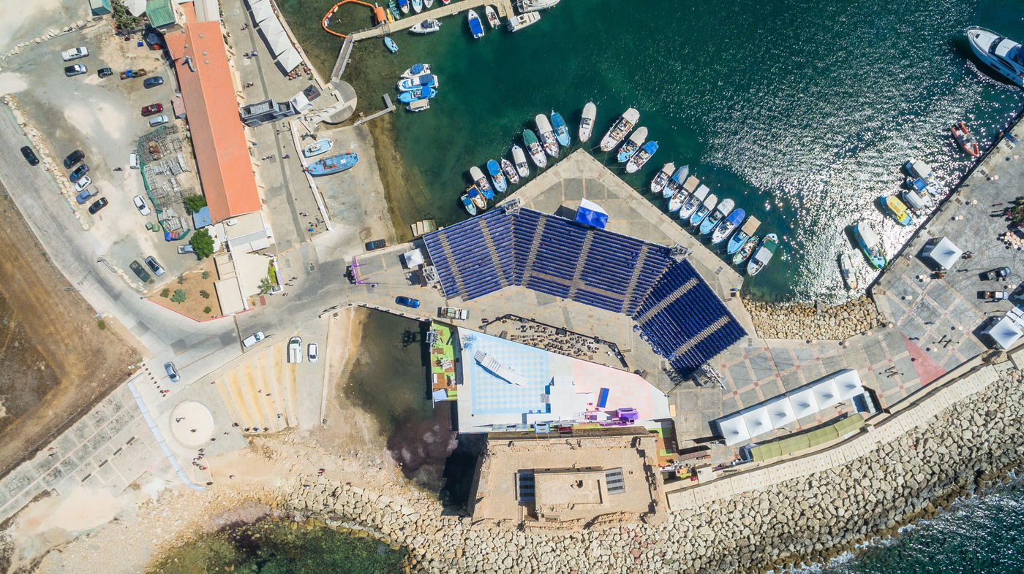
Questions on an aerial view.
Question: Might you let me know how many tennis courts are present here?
none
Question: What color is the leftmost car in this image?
black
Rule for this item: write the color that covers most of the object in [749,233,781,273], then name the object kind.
white boat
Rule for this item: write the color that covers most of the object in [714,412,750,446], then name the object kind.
white tent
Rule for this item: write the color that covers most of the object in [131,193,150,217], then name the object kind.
white car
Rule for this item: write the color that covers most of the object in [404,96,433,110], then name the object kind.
white boat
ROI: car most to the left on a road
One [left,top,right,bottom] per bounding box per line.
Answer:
[17,144,38,166]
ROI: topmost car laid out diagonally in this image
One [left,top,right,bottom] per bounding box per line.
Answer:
[143,29,162,53]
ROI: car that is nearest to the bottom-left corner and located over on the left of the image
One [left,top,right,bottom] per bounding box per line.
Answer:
[162,360,179,384]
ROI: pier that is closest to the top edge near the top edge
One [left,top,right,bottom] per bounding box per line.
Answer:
[352,0,514,42]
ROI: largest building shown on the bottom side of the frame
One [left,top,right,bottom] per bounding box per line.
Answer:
[471,428,666,525]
